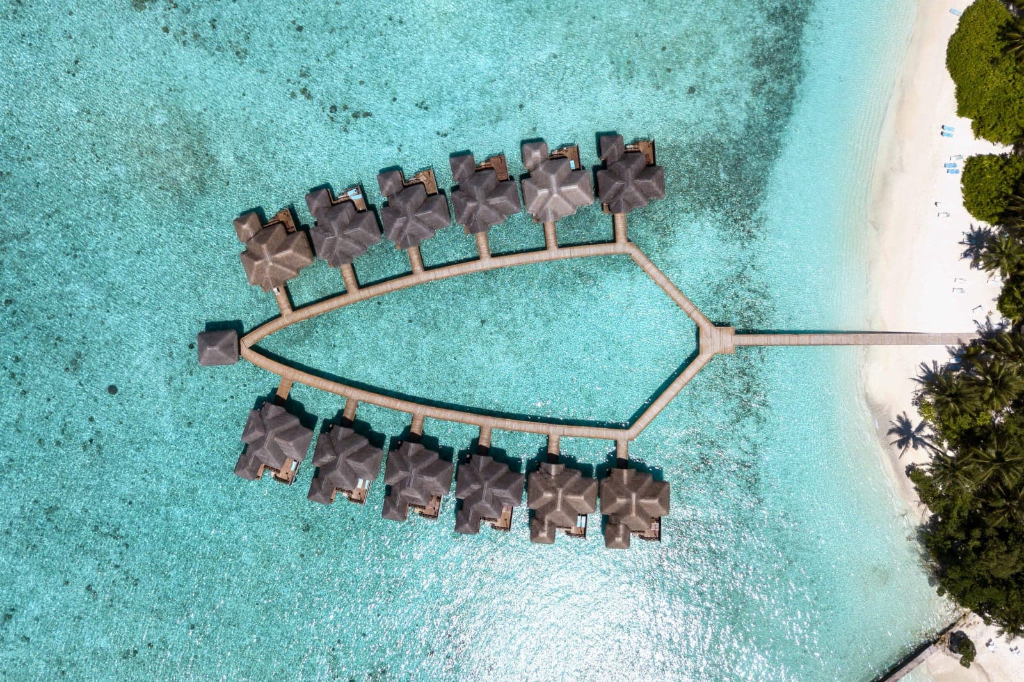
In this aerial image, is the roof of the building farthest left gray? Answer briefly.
Yes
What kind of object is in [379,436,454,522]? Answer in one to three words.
house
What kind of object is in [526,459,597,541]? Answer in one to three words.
house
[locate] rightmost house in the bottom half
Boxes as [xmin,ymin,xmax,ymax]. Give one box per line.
[599,463,668,546]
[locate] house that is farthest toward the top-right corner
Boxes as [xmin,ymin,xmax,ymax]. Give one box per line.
[595,134,666,218]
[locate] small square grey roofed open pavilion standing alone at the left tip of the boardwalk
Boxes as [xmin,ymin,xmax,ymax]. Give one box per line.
[198,330,245,365]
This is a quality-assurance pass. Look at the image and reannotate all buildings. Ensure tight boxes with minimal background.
[447,152,523,239]
[526,459,597,541]
[519,141,593,226]
[374,165,453,253]
[452,450,524,534]
[379,436,454,522]
[232,399,314,488]
[302,183,383,271]
[595,134,666,218]
[198,330,245,365]
[230,206,314,295]
[305,420,384,508]
[599,463,668,546]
